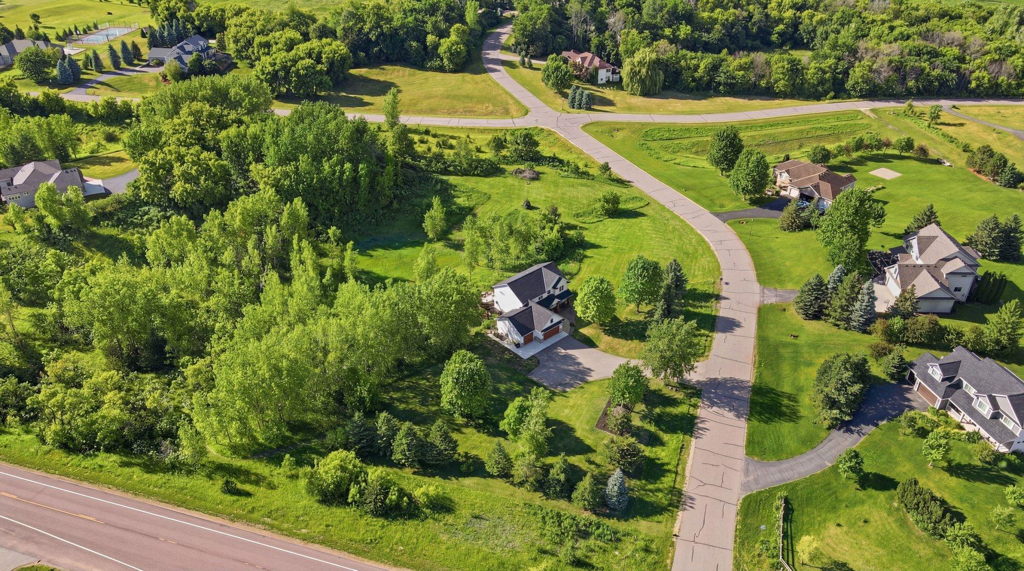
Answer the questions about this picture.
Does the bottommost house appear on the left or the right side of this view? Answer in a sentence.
The bottommost house is on the right side of the image.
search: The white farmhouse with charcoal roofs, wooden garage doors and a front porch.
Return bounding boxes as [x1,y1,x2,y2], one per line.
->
[493,262,574,346]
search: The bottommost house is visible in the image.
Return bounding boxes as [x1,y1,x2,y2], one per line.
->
[904,344,1024,461]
